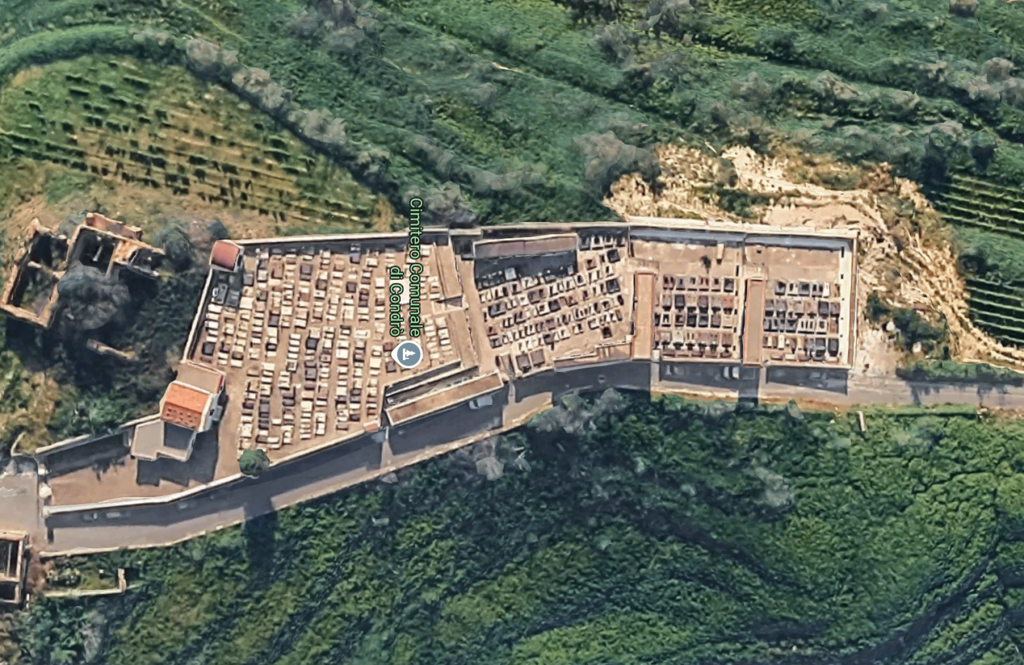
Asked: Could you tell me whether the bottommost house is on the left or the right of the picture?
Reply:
left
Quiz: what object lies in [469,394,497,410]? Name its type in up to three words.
car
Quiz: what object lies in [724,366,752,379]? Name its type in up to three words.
vehicle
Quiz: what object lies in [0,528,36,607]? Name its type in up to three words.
house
